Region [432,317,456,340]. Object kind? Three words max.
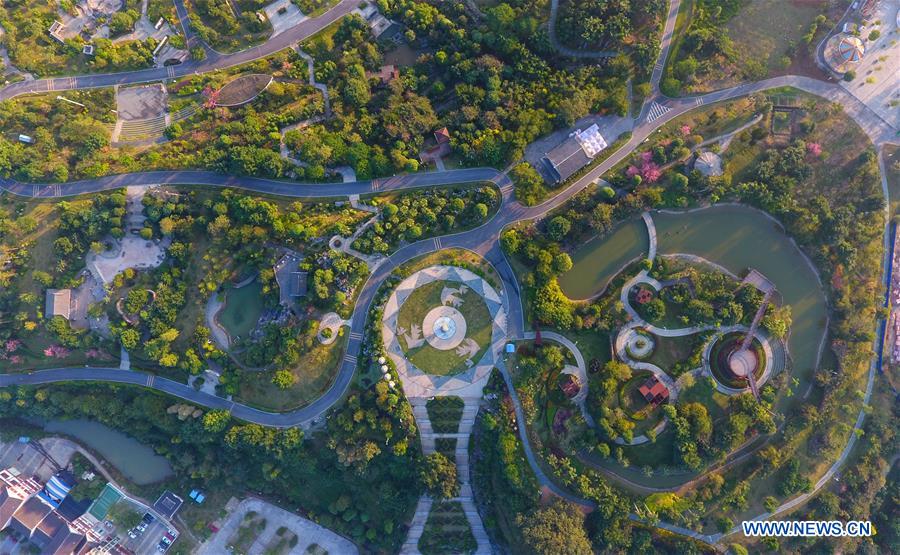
fountain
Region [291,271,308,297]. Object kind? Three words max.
building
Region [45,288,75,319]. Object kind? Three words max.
building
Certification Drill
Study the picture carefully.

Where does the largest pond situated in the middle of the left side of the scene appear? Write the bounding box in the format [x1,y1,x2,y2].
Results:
[217,281,265,340]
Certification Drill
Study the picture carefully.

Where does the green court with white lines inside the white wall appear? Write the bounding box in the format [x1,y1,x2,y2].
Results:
[90,486,122,521]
